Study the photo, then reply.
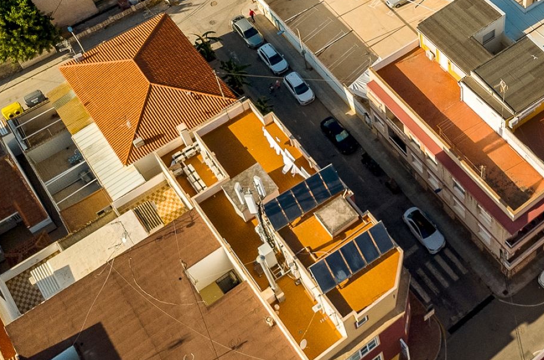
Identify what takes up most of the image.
buildings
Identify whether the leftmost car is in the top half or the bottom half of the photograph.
top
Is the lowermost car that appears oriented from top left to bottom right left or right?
right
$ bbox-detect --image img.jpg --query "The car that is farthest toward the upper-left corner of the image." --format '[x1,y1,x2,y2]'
[230,12,268,48]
